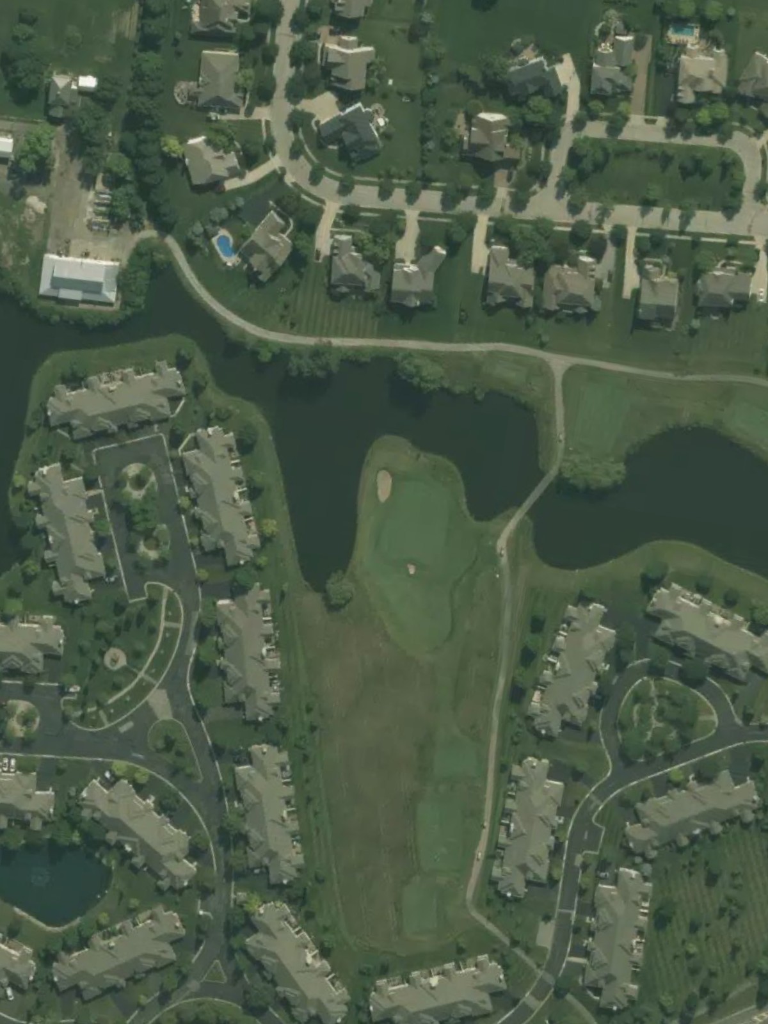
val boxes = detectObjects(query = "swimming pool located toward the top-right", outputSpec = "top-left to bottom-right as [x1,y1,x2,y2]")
[667,24,700,44]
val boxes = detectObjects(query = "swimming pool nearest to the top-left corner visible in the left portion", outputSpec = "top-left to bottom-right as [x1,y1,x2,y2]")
[213,229,240,266]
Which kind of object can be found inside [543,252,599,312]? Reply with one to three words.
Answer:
house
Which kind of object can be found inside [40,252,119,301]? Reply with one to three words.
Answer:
barn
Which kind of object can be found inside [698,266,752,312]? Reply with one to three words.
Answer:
house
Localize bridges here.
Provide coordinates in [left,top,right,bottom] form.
[512,466,558,519]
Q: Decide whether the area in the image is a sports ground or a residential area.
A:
residential area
